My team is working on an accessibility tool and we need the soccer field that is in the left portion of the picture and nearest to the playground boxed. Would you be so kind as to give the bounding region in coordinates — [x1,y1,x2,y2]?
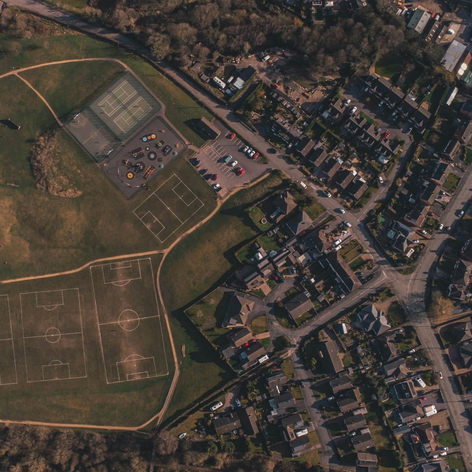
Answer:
[133,174,204,243]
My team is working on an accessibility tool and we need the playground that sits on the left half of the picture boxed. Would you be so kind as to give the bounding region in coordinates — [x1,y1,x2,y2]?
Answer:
[101,116,187,199]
